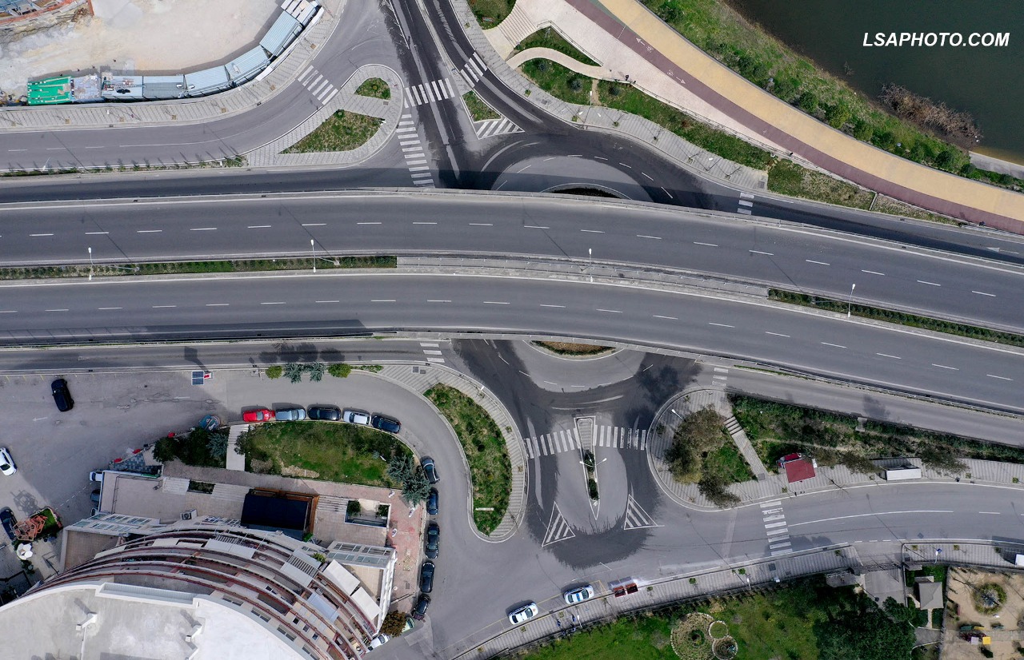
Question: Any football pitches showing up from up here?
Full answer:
No, there appears to be no football pitch in this shot.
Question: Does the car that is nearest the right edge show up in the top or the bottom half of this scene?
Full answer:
The car that is nearest the right edge sits in the bottom half of the picture.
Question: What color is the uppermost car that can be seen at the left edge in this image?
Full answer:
The color of the uppermost car that can be seen at the left edge is black.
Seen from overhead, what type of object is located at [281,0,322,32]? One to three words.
shed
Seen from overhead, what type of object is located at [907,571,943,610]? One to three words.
building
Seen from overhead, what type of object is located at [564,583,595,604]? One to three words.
car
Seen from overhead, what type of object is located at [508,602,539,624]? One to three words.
car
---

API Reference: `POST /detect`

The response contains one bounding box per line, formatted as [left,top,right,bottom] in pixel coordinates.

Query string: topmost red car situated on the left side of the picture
[244,408,275,424]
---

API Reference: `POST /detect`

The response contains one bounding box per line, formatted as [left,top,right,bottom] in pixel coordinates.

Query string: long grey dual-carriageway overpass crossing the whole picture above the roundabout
[0,187,1024,416]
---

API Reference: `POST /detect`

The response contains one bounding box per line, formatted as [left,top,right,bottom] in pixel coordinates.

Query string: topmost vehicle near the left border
[51,379,75,412]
